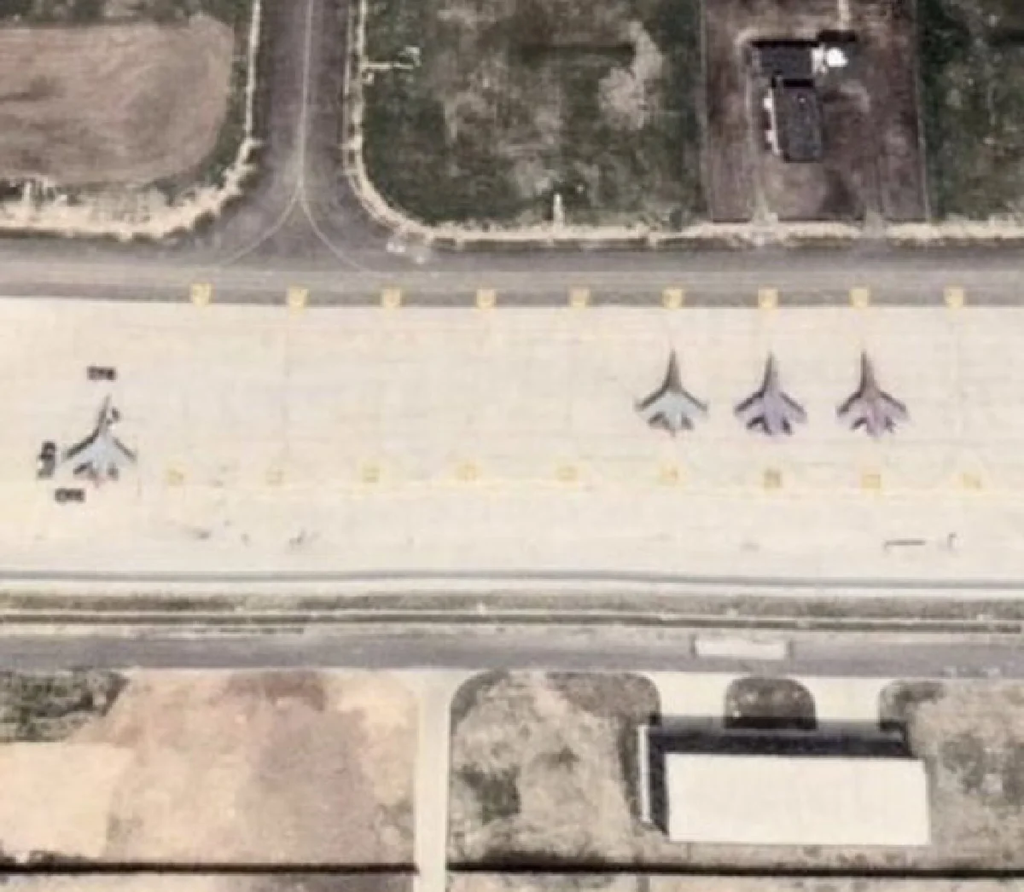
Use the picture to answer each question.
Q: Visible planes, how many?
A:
4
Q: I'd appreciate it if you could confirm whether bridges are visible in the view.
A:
No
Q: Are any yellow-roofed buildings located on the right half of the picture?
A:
No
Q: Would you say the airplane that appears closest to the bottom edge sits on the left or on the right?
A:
left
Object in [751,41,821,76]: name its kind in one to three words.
building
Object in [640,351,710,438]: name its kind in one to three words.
airplane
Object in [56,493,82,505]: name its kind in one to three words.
vehicle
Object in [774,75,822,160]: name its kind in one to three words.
building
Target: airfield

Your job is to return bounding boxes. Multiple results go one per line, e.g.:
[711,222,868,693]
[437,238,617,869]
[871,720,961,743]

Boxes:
[0,0,1024,581]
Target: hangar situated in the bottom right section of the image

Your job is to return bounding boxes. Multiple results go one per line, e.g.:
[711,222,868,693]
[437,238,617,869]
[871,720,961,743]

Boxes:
[651,734,930,846]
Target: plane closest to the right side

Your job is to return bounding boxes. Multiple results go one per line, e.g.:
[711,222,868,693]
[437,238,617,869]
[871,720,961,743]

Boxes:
[836,351,906,438]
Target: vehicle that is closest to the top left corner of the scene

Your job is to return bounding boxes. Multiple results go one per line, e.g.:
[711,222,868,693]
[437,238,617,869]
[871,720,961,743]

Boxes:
[88,371,114,383]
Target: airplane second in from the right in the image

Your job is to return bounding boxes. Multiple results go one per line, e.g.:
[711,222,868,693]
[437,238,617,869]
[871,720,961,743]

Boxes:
[739,352,809,439]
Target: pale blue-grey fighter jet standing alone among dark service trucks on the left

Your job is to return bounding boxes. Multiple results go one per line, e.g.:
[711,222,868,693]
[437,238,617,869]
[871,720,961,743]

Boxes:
[68,398,138,484]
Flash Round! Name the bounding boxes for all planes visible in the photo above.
[739,352,809,439]
[836,351,906,438]
[640,351,710,438]
[68,398,138,484]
